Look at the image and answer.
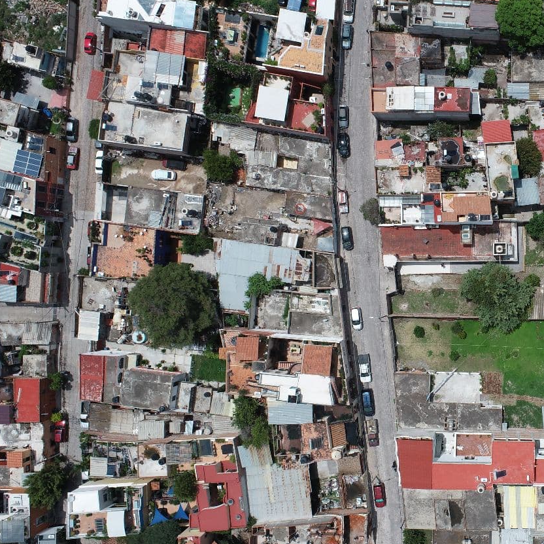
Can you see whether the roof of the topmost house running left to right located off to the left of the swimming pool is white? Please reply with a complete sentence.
Yes, the roof of the topmost house running left to right located off to the left of the swimming pool appears white.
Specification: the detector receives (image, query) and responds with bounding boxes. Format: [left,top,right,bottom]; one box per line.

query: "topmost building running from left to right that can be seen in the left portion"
[96,0,213,35]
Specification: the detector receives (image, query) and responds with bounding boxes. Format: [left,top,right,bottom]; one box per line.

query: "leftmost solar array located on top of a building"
[13,149,43,178]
